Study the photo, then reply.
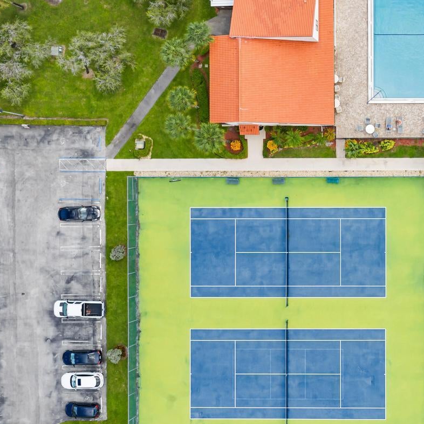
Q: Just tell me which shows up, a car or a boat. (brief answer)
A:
car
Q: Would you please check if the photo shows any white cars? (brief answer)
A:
Yes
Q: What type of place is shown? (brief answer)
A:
sports ground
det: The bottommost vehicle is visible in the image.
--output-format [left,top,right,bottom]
[66,401,102,420]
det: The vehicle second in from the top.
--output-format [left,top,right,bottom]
[53,300,107,319]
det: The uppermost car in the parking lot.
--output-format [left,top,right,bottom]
[58,204,104,222]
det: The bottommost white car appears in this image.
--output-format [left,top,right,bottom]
[61,372,105,391]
